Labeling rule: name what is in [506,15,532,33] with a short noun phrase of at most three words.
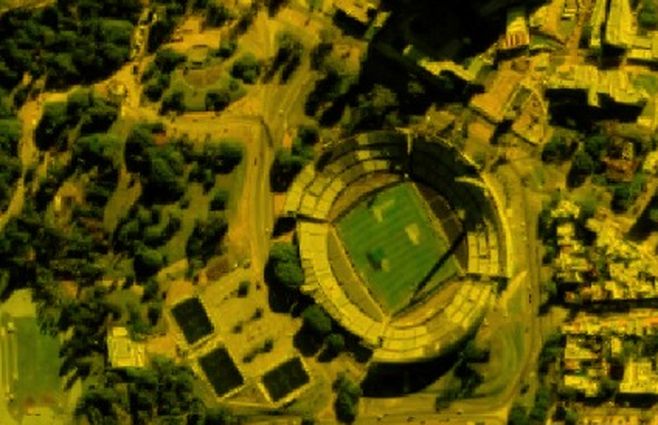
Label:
building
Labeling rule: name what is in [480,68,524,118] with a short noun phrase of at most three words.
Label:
building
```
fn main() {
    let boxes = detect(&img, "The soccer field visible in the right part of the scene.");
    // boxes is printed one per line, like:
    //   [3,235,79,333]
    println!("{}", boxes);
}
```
[337,184,462,316]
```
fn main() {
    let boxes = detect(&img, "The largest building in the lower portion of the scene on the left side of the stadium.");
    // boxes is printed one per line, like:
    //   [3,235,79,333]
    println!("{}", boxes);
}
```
[109,339,139,368]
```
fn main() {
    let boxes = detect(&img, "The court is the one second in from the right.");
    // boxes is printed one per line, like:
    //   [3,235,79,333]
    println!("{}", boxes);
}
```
[196,343,248,401]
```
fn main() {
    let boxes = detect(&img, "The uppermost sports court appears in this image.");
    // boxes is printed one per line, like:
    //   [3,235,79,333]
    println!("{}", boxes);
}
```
[168,293,218,350]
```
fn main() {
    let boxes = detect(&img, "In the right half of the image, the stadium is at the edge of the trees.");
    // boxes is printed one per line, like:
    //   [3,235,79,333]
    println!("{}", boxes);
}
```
[285,128,513,370]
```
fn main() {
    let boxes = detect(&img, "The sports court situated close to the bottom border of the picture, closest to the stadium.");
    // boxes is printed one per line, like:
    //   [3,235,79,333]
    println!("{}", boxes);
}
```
[259,354,316,405]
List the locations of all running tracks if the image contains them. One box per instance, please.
[0,287,85,425]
